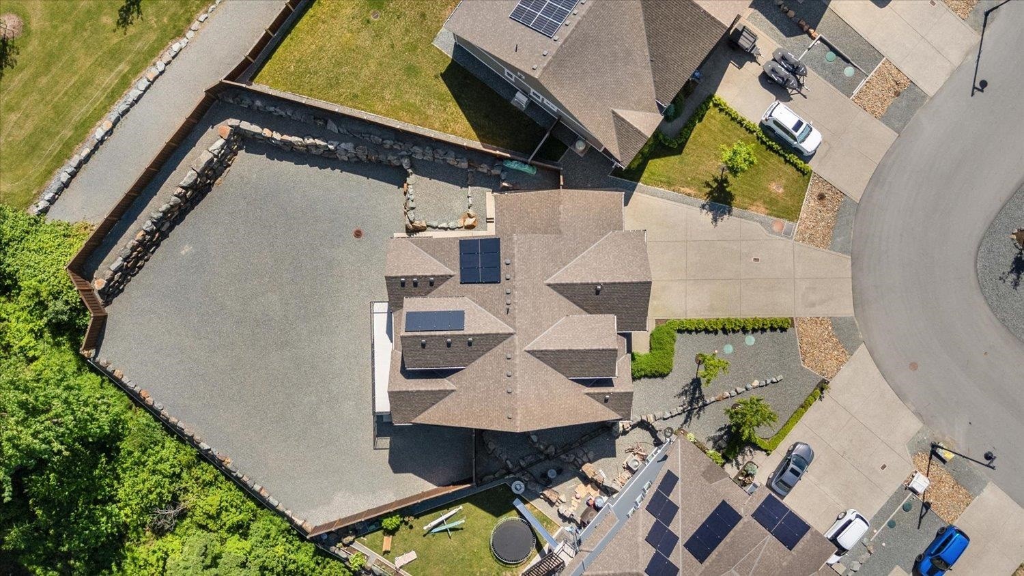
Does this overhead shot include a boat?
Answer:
Yes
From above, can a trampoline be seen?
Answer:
Yes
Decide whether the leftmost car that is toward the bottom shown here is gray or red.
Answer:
gray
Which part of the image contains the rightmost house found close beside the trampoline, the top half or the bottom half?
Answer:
bottom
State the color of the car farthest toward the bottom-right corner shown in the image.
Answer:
blue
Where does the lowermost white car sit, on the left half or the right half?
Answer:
right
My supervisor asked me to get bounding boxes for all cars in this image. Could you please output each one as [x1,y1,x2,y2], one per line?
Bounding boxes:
[915,532,965,576]
[826,508,871,564]
[762,101,821,154]
[769,440,814,503]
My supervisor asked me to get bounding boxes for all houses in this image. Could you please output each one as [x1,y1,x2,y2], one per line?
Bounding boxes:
[370,188,652,452]
[439,0,750,171]
[535,434,834,576]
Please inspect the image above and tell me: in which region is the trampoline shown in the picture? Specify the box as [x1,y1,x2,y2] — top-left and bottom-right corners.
[491,517,536,564]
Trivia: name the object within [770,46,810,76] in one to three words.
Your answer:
boat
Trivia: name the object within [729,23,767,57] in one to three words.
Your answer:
trailer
